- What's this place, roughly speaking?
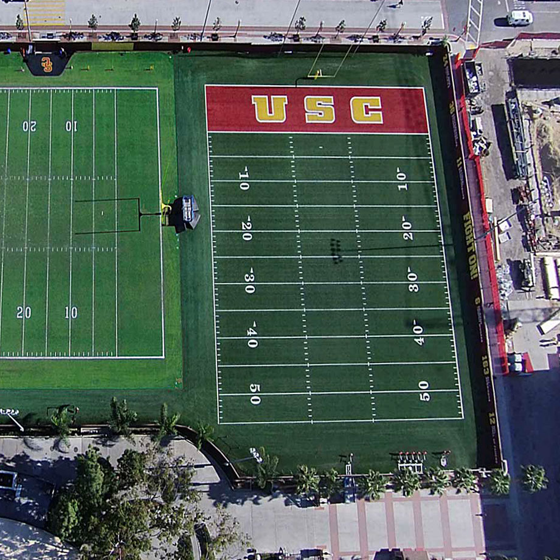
sports ground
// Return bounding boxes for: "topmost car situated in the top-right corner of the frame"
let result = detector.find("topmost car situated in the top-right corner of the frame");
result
[505,11,531,26]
